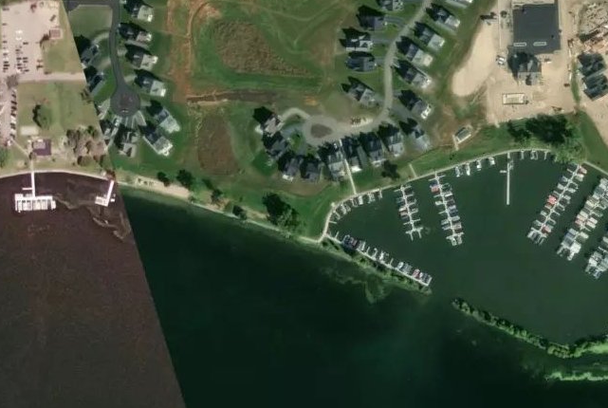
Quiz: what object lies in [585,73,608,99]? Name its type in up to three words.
house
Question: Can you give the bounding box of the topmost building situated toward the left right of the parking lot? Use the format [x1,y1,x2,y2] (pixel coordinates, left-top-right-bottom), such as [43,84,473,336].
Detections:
[124,0,152,21]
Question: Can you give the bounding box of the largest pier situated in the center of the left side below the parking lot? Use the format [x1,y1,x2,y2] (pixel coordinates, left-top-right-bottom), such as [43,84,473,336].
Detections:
[16,173,56,210]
